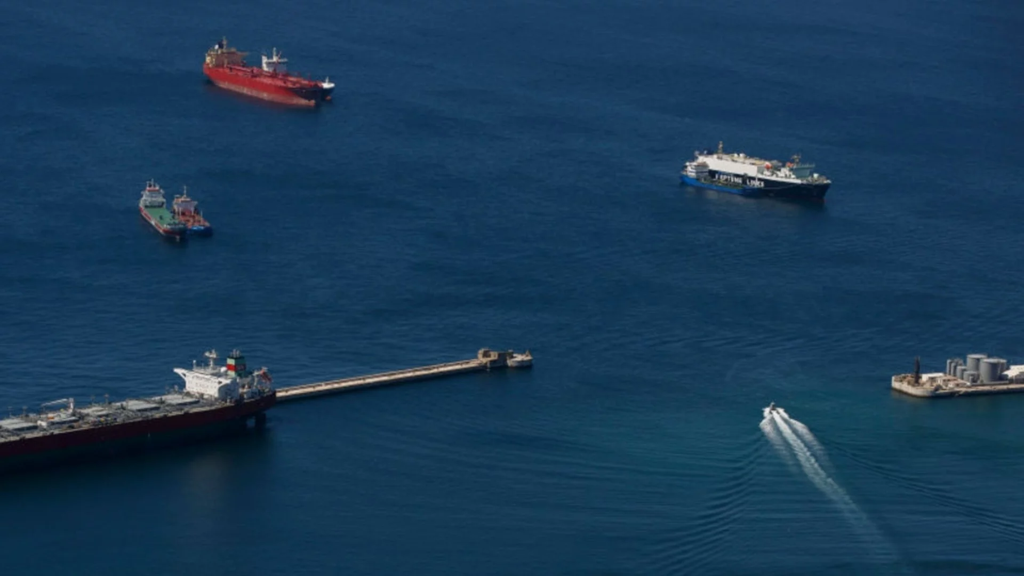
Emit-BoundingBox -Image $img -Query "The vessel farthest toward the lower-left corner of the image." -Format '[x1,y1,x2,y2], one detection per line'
[0,349,280,473]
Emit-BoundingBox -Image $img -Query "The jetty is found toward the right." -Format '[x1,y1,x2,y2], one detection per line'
[892,362,1024,397]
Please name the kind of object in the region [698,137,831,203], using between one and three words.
ship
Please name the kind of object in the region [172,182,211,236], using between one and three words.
ship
